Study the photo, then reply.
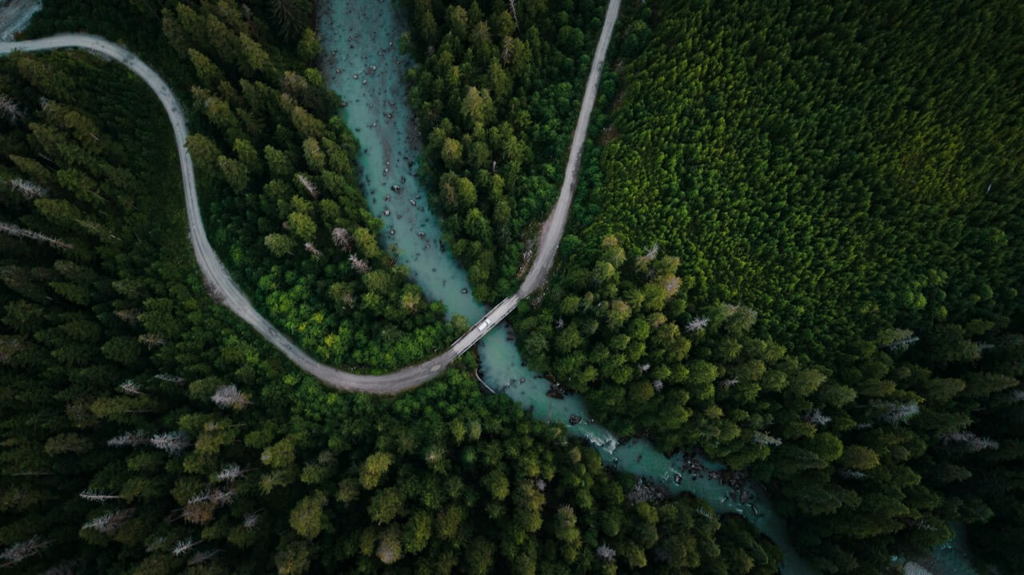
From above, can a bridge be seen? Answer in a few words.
Yes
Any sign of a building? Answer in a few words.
No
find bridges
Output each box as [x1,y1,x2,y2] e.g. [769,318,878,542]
[449,291,526,359]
